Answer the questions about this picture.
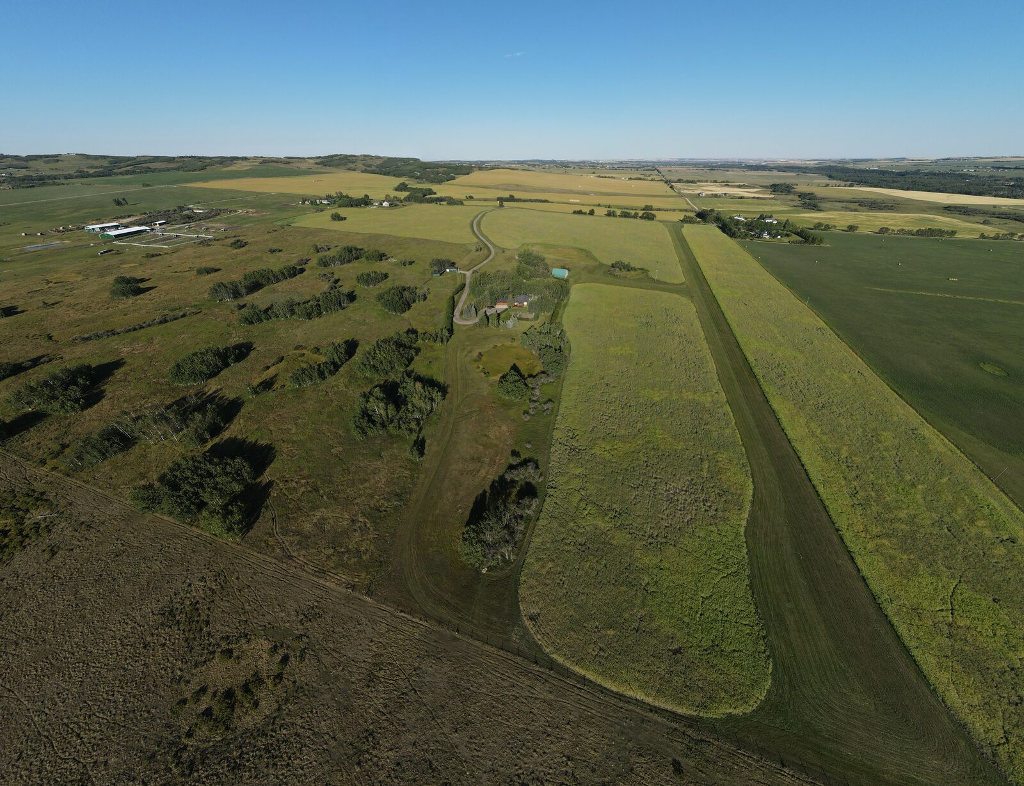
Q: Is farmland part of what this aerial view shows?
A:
Yes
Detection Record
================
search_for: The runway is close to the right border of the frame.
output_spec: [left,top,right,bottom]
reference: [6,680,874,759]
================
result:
[670,224,1008,786]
